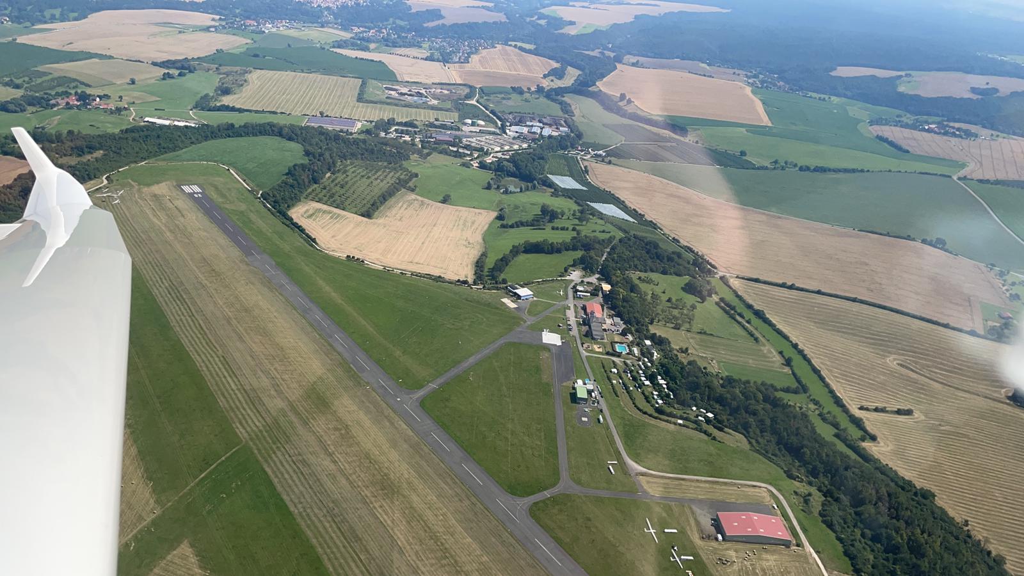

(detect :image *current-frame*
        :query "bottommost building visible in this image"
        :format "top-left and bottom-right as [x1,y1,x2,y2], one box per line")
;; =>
[716,512,792,544]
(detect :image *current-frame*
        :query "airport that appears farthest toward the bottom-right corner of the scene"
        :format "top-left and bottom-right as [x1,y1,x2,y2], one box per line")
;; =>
[574,310,846,576]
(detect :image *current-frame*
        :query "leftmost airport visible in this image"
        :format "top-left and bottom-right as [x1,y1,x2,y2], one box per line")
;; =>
[88,194,295,576]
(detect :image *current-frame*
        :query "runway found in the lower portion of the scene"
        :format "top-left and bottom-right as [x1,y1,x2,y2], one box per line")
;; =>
[178,183,588,576]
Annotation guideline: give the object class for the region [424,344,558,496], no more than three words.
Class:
airport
